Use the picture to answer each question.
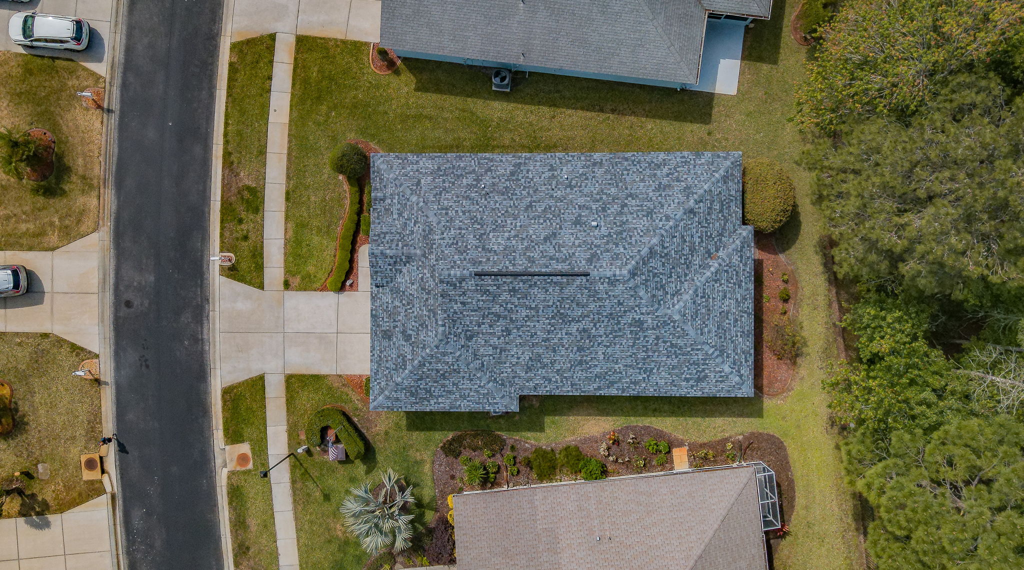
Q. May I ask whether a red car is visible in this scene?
No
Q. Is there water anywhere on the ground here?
No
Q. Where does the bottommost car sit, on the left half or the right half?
left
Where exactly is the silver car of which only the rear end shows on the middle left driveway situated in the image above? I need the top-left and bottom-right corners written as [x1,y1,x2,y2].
[0,264,33,297]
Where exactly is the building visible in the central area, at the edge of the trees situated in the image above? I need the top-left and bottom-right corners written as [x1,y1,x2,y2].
[369,152,754,412]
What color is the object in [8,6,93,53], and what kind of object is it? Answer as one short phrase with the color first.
white car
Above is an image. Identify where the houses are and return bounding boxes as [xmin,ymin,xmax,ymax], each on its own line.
[381,0,773,94]
[369,152,754,412]
[453,458,770,570]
